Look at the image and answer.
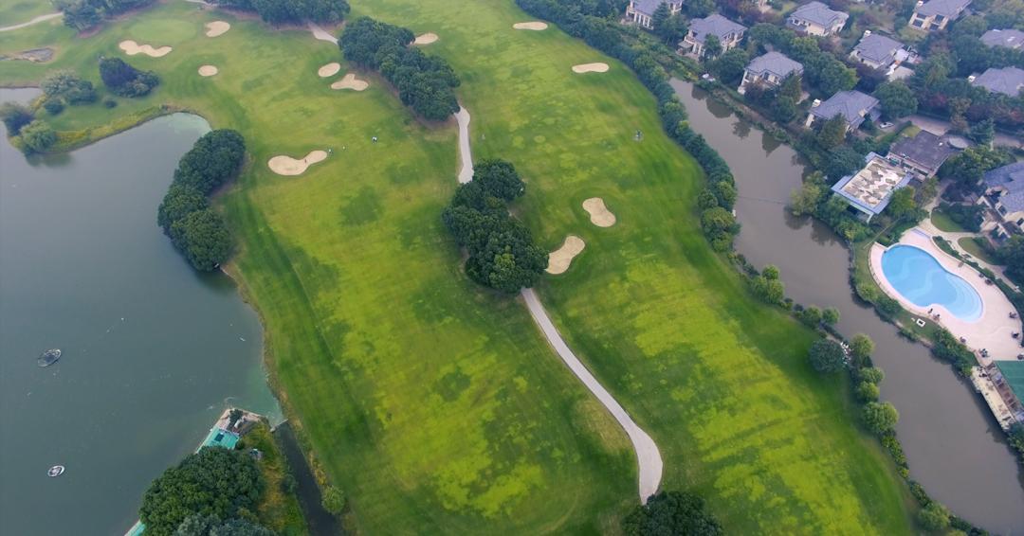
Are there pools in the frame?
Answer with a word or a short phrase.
Yes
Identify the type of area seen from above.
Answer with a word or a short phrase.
golf course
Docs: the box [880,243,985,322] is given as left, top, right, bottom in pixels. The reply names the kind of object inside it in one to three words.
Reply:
swimming pool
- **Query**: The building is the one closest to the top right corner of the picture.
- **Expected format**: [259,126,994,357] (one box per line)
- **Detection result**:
[980,28,1024,70]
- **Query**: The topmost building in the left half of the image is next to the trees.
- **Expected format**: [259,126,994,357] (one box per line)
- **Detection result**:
[190,426,242,456]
